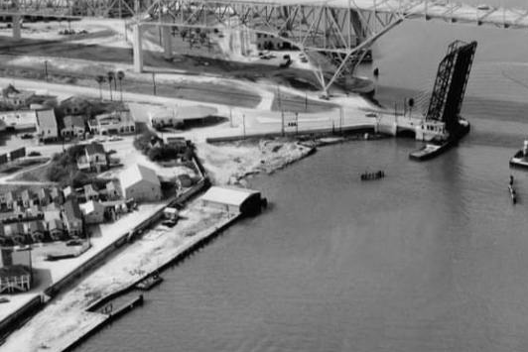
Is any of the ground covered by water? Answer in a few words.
Yes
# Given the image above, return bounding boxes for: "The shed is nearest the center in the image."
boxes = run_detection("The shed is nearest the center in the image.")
[200,179,269,220]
